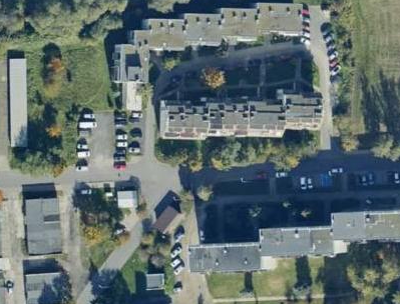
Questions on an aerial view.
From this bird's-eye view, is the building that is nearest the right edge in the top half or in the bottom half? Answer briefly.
bottom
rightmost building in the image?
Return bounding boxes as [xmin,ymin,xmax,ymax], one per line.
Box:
[331,212,400,243]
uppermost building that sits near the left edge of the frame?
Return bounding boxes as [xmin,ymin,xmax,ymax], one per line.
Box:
[10,59,30,147]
